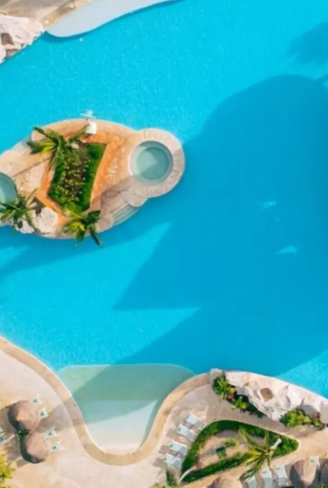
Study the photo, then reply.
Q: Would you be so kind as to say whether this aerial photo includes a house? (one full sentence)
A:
No, there's no house here.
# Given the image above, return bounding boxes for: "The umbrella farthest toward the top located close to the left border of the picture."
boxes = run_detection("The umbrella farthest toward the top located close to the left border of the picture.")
[11,396,48,430]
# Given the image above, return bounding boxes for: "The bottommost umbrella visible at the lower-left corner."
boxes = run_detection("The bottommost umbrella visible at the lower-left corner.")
[21,430,59,465]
